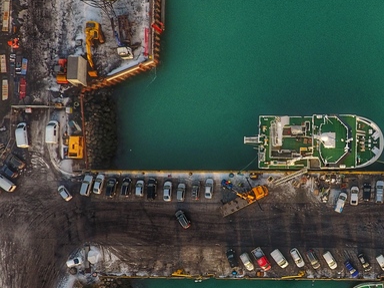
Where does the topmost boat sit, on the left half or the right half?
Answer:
right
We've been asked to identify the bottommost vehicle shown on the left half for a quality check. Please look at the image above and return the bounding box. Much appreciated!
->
[65,255,84,267]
